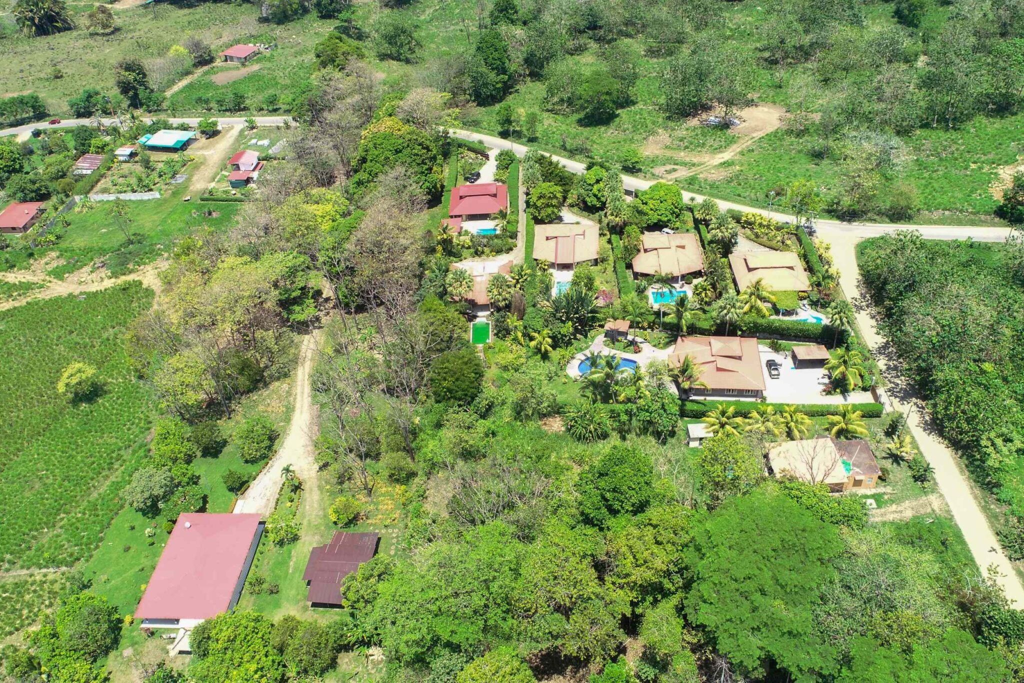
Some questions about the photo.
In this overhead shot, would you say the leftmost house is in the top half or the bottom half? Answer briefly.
top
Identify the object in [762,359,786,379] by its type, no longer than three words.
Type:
vehicle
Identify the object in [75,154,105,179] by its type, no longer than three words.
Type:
barn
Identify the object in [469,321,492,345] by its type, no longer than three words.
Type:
swimming pool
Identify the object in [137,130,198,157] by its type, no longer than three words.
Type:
house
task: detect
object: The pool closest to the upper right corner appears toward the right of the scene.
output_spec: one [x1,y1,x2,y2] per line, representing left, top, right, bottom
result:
[777,315,825,327]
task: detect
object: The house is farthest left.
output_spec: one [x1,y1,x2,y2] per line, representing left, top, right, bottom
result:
[0,202,44,236]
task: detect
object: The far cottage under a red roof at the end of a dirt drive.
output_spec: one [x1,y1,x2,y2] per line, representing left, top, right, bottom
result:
[220,45,258,63]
